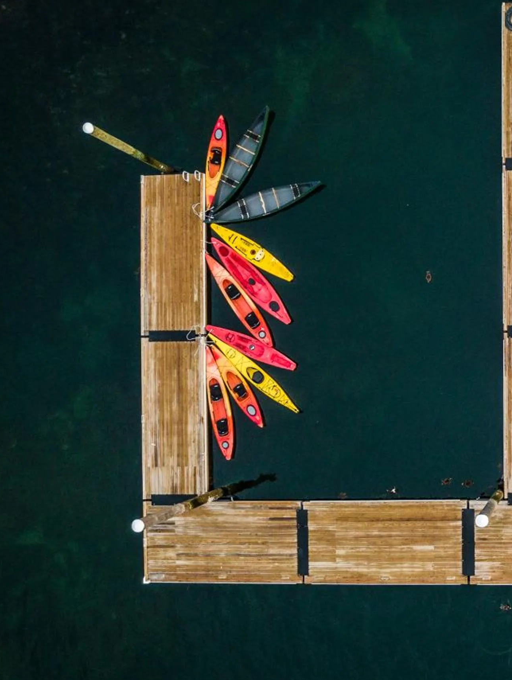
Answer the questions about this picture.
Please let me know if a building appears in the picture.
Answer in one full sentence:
No, there appears to be no building in this shot.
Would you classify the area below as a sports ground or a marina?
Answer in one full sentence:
This looks like a marina.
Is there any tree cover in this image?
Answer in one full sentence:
No, no tree cover is visible.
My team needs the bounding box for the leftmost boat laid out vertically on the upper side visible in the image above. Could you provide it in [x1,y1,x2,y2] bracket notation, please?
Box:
[204,114,226,209]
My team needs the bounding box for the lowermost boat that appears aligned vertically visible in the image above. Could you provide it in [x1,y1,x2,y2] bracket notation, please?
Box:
[209,349,232,460]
